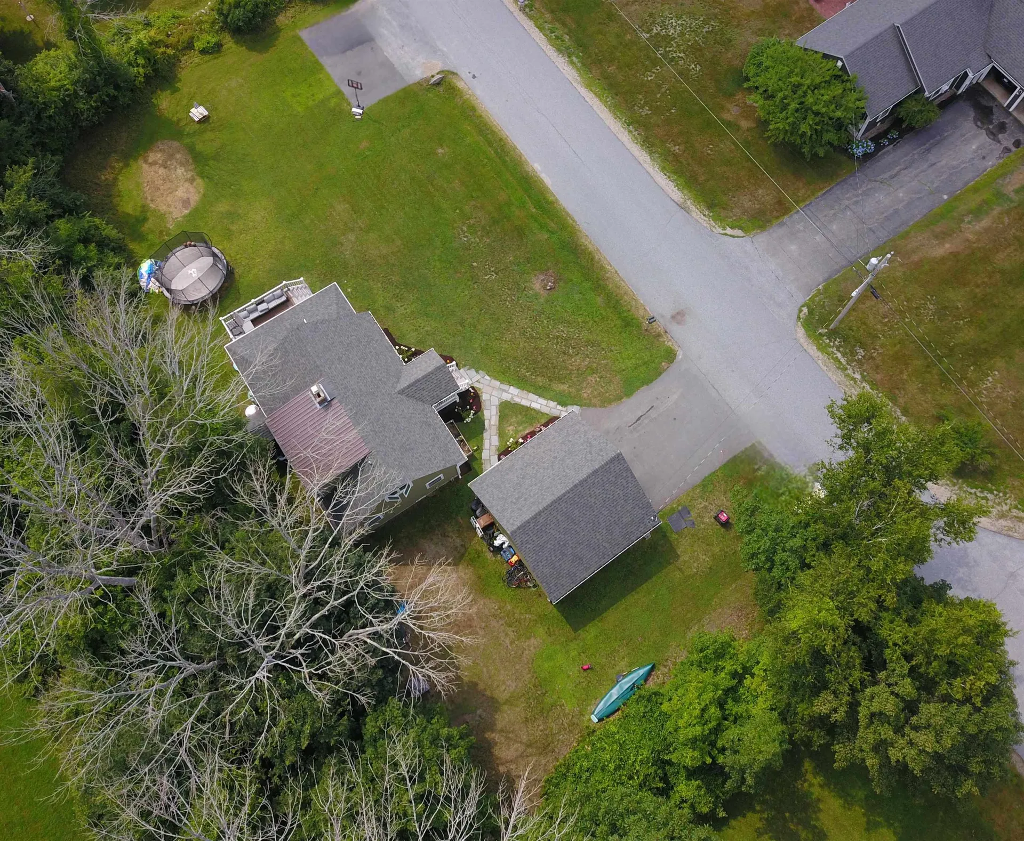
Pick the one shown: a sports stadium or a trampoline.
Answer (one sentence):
Of the two, only a trampoline appears.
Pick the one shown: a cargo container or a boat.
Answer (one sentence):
Of the two, only a boat appears.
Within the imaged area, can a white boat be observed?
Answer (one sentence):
No, the photo shows no white boat.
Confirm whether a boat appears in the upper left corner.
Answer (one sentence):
No, no boat can be made out in the upper left corner.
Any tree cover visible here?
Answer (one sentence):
Yes, the picture does contain tree cover.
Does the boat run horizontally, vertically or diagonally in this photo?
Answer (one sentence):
In this picture, the boat lies diagonally.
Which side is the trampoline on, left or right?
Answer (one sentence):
The trampoline is on the left side of the image.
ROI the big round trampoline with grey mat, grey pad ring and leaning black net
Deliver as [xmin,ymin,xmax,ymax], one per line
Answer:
[142,229,231,313]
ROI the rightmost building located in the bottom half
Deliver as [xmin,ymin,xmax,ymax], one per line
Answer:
[467,408,665,605]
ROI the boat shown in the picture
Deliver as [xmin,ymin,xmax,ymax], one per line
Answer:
[590,663,655,723]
